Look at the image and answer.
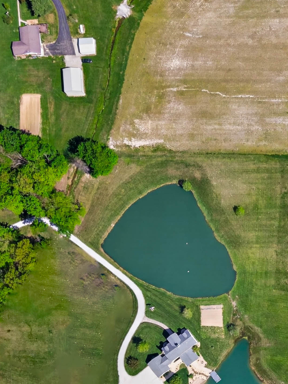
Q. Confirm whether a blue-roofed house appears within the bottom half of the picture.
No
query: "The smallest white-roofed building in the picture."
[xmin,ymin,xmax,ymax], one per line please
[78,38,97,57]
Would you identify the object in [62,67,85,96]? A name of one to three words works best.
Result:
barn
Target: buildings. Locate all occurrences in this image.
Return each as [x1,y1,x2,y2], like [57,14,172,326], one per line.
[78,38,97,57]
[12,25,53,59]
[62,67,85,96]
[148,329,201,380]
